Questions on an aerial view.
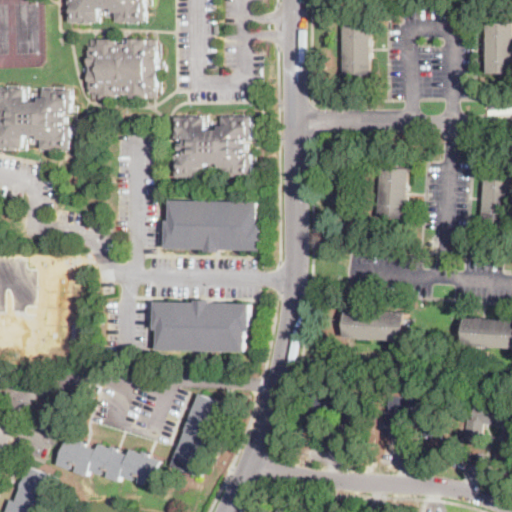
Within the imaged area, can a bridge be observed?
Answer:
No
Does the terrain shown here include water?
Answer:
No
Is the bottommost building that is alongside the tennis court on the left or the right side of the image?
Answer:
left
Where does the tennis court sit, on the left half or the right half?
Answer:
left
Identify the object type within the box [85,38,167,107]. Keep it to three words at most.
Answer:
building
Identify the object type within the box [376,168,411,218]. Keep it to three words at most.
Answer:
house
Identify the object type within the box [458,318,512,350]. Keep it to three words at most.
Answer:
house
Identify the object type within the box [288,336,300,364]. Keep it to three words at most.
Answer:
vehicle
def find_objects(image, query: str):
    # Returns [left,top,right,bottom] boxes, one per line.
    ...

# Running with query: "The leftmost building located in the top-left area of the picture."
[0,85,82,154]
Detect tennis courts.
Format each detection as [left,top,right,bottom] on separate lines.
[0,0,45,67]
